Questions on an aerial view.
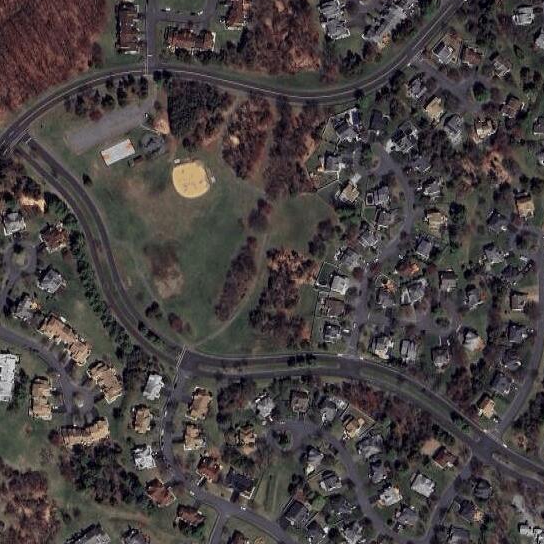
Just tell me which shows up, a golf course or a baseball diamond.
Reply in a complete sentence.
The image shows a baseball diamond.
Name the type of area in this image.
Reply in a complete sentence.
It's a residential area.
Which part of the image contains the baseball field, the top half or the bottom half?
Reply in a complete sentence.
Seen from above, the baseball field lies in the top half of the view.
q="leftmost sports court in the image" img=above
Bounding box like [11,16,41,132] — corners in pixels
[101,139,135,166]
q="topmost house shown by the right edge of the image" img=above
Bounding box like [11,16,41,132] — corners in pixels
[511,5,535,25]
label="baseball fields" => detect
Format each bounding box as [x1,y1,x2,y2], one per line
[173,157,211,197]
